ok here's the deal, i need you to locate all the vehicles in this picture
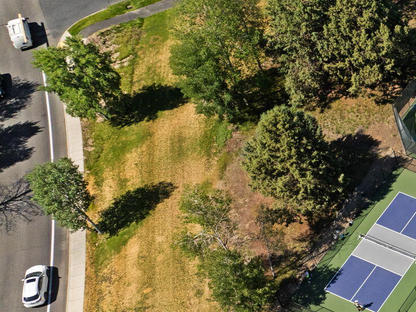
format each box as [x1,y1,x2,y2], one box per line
[7,18,33,48]
[19,264,48,307]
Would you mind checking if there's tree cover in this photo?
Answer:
Yes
